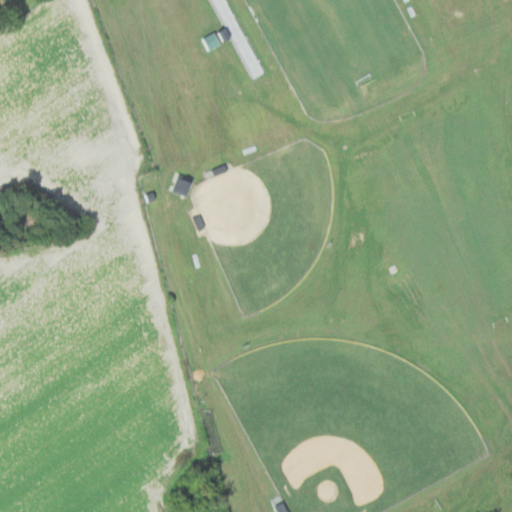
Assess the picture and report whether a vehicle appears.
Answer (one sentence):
No, there appears to be no vehicle in this shot.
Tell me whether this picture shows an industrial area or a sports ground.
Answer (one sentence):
The picture captures a sports ground.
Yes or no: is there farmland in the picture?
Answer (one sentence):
Yes, there is farmland in the image.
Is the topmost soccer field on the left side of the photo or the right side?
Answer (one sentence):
The topmost soccer field is on the right side of the image.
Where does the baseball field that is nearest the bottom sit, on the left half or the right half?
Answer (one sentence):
The baseball field that is nearest the bottom appears in the right half of the scene.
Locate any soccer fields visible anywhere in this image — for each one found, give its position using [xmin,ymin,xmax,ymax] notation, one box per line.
[244,0,426,124]
[376,92,512,335]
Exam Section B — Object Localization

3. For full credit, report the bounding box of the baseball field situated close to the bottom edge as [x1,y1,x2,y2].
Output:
[214,338,489,512]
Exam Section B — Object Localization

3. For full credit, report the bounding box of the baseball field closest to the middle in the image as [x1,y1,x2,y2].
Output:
[189,138,334,318]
